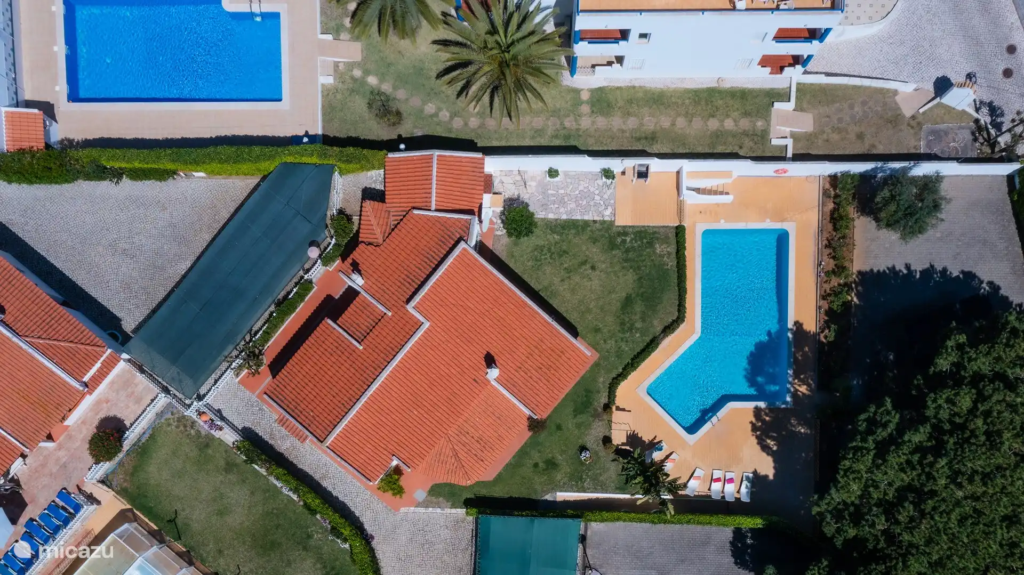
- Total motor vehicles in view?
0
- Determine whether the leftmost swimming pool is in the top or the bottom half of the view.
top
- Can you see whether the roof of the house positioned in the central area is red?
Yes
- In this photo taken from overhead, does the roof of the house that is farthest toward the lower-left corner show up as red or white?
red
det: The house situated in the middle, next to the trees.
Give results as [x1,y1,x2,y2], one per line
[262,149,593,485]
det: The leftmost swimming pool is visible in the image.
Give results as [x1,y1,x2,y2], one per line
[57,0,289,109]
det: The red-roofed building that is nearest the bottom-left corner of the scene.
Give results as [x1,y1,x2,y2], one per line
[0,241,144,480]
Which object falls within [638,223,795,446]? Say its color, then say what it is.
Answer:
blue swimming pool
